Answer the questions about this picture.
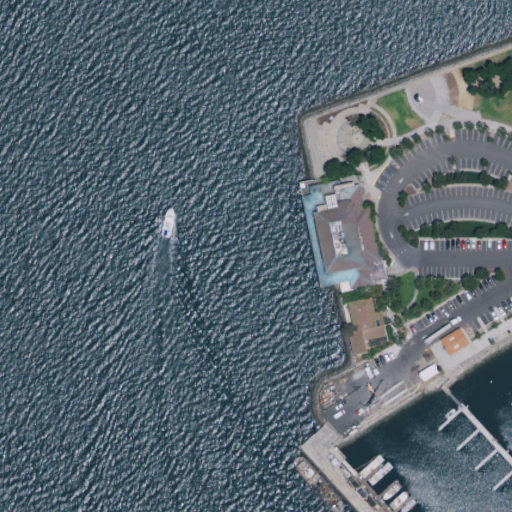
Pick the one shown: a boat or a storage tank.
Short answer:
boat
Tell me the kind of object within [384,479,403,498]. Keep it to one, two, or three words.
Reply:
boat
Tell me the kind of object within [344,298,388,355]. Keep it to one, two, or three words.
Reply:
building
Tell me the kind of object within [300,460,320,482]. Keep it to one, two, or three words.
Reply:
boat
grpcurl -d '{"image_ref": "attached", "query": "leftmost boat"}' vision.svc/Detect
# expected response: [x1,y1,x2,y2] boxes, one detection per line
[160,208,174,239]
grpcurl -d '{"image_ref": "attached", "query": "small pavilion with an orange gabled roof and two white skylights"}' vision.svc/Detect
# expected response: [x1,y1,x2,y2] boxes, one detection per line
[442,328,470,355]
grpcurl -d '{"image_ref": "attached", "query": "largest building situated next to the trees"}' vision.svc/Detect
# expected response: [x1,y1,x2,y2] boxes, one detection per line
[300,179,390,292]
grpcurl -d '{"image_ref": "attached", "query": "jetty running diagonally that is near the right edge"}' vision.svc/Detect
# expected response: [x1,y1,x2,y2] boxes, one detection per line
[438,384,512,507]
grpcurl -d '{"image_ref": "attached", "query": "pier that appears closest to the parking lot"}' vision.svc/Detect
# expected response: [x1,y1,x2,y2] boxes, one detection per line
[301,421,392,512]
